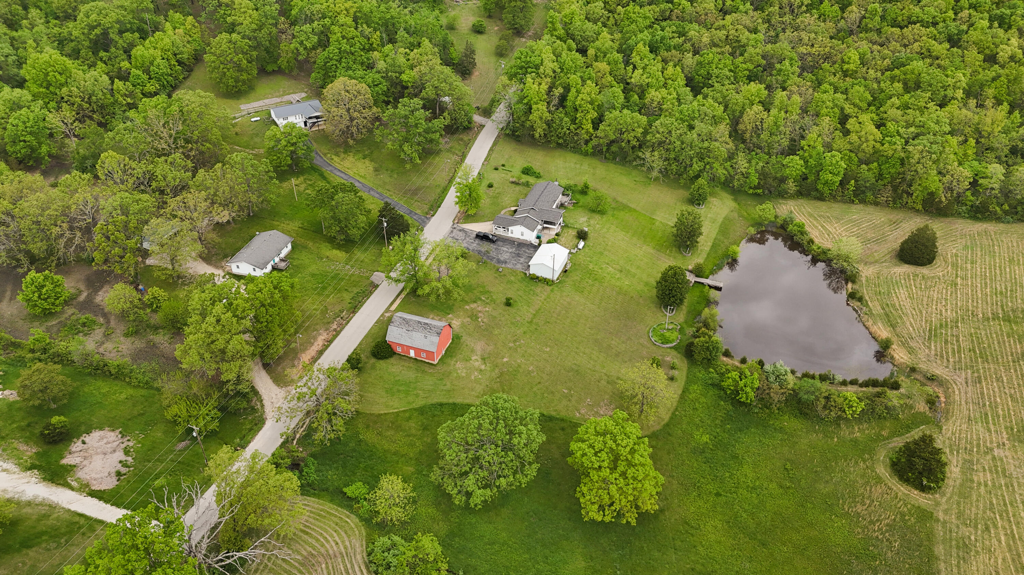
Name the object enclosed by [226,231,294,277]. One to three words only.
house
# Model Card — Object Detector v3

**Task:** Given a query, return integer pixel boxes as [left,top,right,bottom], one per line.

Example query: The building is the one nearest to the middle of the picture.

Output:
[529,243,569,280]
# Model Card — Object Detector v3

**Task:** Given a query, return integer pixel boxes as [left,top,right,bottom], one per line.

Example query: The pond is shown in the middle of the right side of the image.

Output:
[715,229,895,381]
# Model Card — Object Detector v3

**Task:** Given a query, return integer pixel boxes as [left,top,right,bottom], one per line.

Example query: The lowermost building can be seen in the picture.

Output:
[386,311,453,364]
